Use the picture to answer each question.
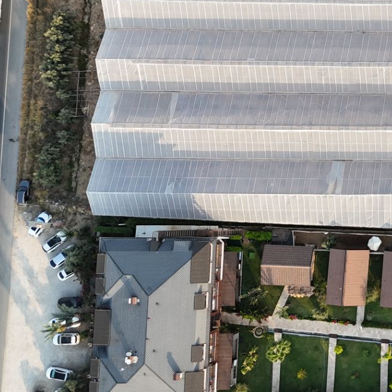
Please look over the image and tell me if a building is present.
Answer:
Yes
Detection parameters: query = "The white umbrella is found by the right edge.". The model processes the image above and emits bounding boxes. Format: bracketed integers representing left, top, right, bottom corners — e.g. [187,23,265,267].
[367,237,381,250]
